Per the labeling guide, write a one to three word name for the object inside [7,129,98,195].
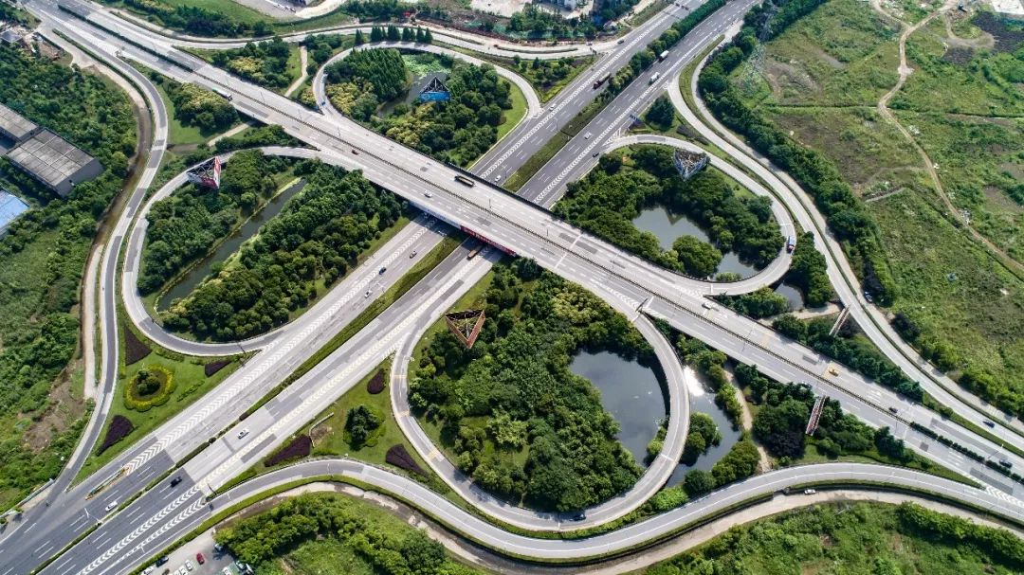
shed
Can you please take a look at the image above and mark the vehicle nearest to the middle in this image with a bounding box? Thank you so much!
[468,244,482,258]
